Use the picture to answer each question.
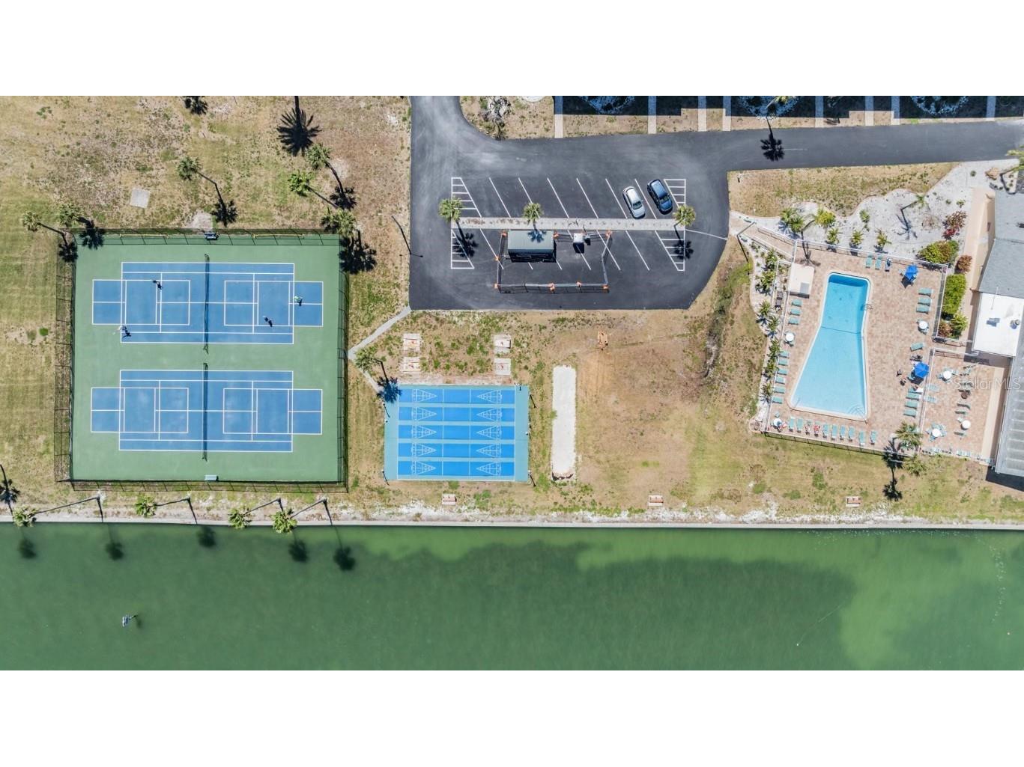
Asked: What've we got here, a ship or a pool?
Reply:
pool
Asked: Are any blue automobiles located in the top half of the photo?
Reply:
Yes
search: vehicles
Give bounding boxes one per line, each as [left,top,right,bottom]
[624,184,647,218]
[648,178,673,214]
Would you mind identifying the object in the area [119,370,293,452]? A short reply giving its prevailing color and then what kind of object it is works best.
blue tennis court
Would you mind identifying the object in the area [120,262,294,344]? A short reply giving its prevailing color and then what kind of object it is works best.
blue tennis court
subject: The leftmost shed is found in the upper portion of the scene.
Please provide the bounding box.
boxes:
[502,230,554,261]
